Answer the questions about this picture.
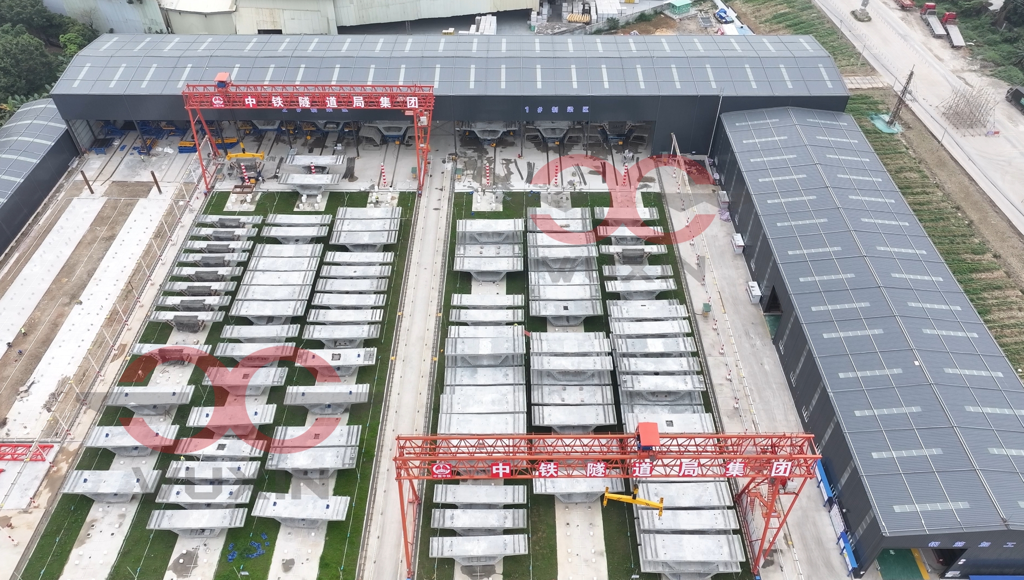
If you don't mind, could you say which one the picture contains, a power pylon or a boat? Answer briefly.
power pylon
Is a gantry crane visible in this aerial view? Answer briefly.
Yes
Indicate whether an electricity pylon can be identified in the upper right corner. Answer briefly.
Yes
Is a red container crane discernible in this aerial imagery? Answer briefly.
Yes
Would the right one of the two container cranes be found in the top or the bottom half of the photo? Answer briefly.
bottom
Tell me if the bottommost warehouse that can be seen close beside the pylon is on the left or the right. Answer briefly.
right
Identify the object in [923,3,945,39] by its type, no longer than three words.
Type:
truck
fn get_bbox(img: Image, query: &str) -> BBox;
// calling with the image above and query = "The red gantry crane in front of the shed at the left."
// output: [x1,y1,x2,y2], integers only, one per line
[177,78,431,193]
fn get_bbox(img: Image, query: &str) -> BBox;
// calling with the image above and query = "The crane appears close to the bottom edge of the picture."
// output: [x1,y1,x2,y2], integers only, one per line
[393,425,824,579]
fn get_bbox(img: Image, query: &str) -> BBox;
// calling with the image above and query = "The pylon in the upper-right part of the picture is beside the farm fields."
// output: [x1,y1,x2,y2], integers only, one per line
[890,59,926,127]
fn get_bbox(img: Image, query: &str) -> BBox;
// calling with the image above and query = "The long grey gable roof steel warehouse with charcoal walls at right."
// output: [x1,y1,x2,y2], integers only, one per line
[708,106,1024,580]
